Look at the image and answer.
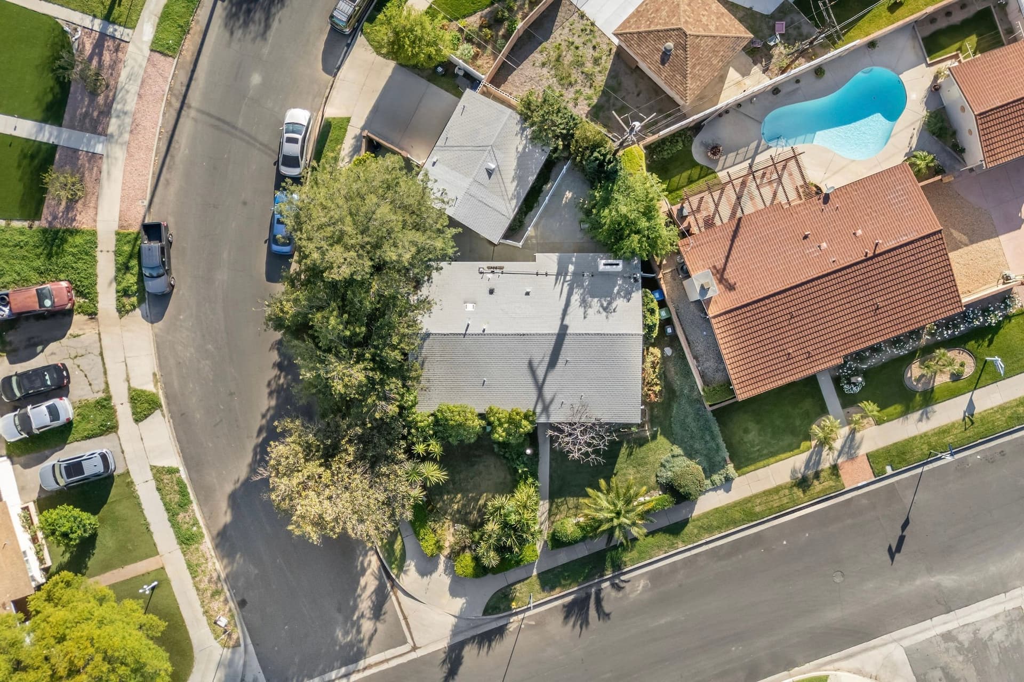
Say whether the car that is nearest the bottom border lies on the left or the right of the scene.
left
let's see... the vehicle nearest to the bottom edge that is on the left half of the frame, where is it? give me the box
[36,447,114,489]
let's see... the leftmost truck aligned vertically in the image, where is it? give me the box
[137,221,174,295]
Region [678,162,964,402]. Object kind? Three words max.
house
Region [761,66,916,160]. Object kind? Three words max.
swimming pool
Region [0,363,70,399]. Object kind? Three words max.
car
